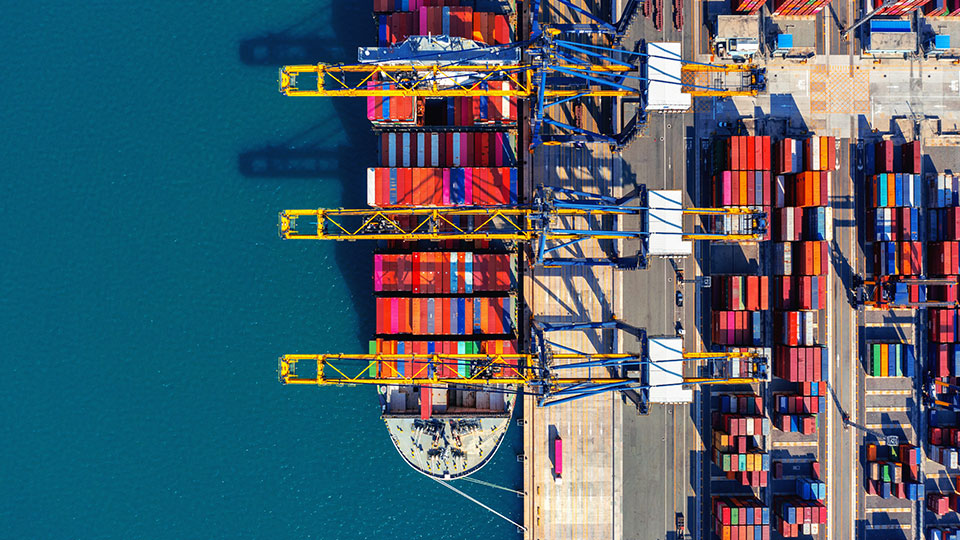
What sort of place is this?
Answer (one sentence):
What you see here is a port.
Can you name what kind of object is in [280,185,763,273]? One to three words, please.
container crane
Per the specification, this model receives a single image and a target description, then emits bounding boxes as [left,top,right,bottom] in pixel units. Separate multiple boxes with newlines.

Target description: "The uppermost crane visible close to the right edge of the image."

[854,275,960,309]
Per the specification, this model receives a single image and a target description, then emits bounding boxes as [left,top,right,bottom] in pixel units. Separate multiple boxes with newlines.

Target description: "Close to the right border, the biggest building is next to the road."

[860,11,917,59]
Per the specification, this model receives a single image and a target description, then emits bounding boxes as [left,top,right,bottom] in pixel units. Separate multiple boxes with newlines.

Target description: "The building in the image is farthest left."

[714,15,758,57]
